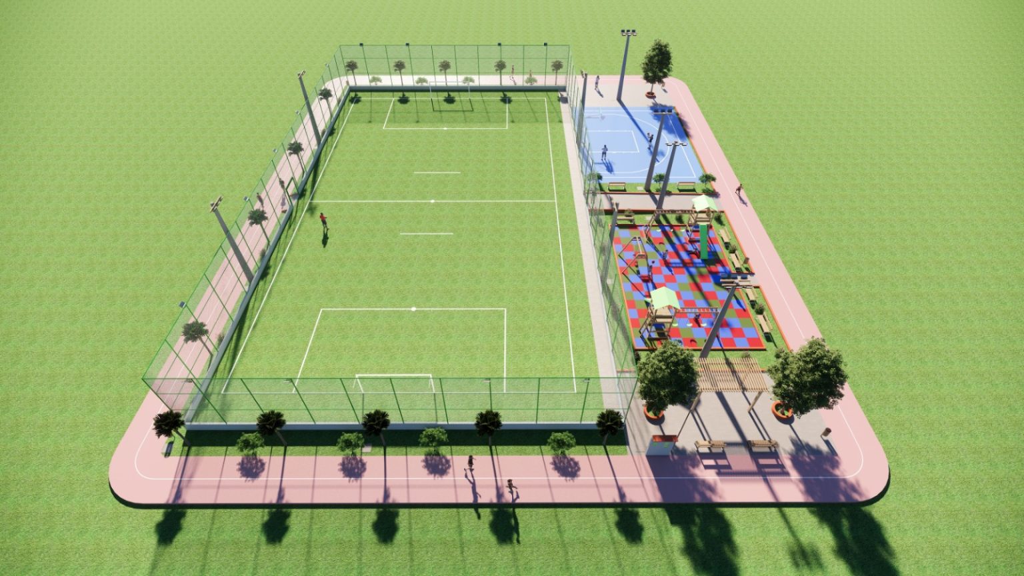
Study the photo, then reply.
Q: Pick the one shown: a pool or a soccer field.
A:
soccer field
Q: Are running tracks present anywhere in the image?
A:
Yes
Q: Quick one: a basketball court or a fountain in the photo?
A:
basketball court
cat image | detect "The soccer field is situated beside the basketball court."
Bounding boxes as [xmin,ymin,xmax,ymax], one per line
[194,92,606,421]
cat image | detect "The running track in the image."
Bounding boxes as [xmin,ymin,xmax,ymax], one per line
[113,76,885,505]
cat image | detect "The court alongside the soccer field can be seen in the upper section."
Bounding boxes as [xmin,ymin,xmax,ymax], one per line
[572,107,706,182]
